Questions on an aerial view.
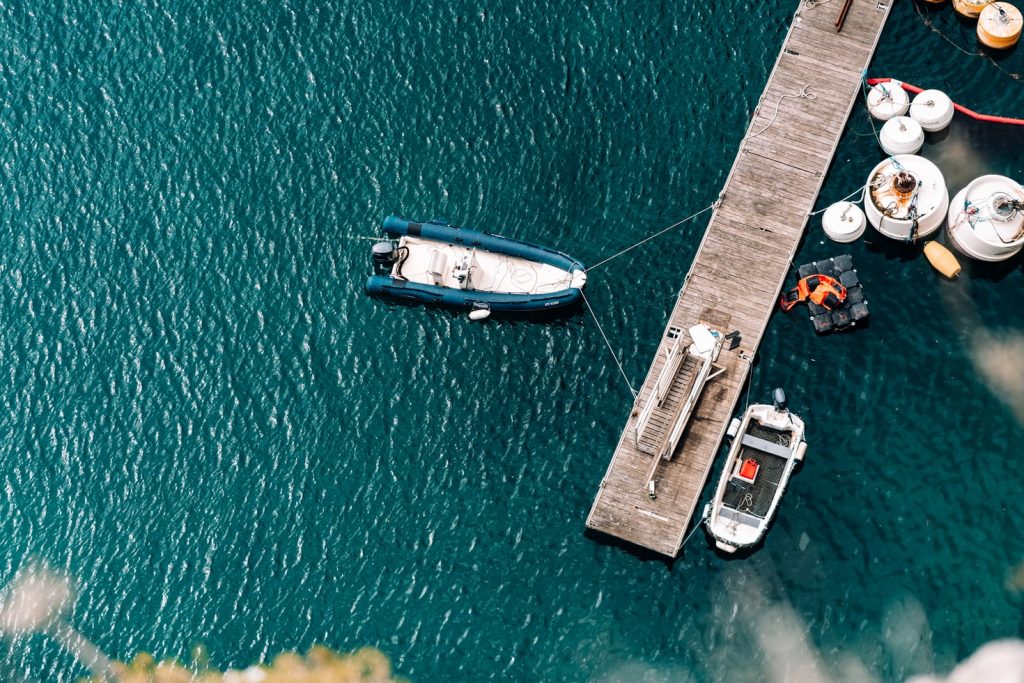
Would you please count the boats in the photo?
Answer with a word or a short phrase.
2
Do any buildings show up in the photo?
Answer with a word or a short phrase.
No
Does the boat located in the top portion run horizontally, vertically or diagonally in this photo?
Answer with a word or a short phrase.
horizontally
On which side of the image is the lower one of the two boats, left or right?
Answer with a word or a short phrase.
right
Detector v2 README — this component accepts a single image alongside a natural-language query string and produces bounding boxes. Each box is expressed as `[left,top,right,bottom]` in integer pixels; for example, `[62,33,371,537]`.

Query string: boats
[367,214,585,310]
[707,392,804,549]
